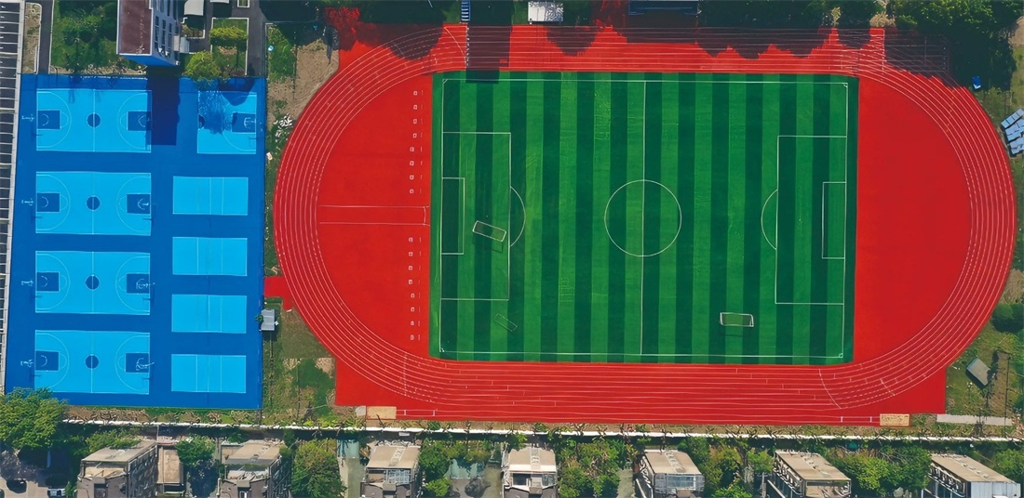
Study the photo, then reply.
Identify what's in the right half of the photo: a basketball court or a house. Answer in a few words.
house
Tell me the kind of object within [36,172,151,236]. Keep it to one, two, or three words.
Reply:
basketball court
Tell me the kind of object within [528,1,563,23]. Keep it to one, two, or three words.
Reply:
building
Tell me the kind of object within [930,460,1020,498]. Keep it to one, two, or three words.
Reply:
house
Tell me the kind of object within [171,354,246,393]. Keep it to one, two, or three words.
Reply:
sports court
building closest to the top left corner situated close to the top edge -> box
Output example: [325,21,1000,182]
[116,0,179,65]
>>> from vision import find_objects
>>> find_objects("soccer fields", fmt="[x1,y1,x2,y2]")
[430,70,861,366]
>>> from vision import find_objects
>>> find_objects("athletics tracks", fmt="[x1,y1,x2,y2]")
[264,24,1014,427]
